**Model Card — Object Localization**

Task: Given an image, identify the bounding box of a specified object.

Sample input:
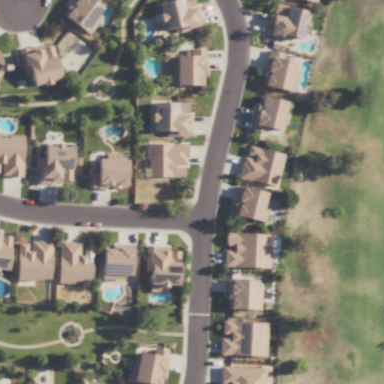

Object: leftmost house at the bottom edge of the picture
[136,352,174,384]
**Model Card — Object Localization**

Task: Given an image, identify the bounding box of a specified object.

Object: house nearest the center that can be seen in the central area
[144,143,190,178]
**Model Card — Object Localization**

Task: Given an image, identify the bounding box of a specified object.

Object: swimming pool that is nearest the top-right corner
[296,38,318,54]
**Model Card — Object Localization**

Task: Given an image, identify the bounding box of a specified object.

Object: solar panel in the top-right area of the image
[299,10,311,37]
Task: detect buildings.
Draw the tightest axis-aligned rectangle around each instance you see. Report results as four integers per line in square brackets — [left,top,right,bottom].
[222,366,273,384]
[229,279,264,310]
[24,43,63,82]
[222,320,270,358]
[227,232,273,268]
[144,143,190,178]
[98,152,132,189]
[136,352,174,384]
[40,143,76,184]
[266,52,301,92]
[162,0,210,33]
[239,145,287,188]
[60,241,95,283]
[239,188,272,222]
[180,50,209,86]
[104,245,138,280]
[0,133,26,176]
[68,0,115,32]
[256,96,292,131]
[151,100,195,133]
[147,246,184,292]
[274,2,314,40]
[0,228,14,270]
[18,240,54,280]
